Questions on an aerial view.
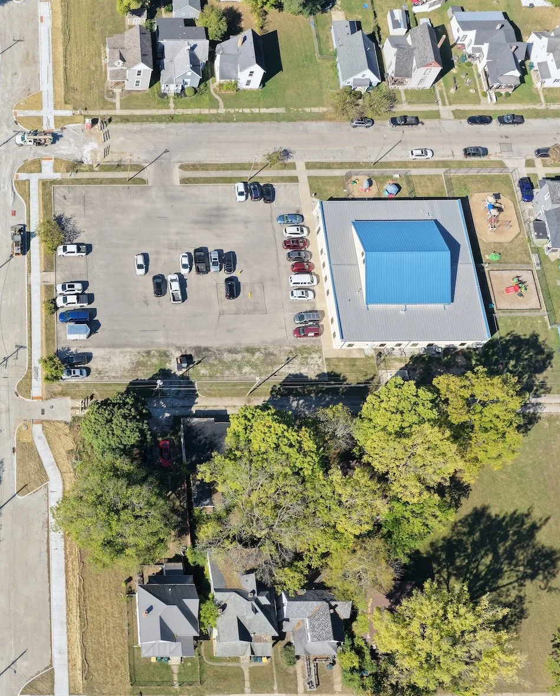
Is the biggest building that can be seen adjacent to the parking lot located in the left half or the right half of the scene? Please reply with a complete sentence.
You can find the biggest building that can be seen adjacent to the parking lot on the right side of the picture.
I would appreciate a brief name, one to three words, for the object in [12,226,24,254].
vehicle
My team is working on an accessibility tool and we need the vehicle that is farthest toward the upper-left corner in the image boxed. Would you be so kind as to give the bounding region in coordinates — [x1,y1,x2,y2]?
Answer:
[13,132,53,147]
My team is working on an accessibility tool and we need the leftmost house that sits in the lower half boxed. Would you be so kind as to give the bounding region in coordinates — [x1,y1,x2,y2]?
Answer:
[136,563,201,657]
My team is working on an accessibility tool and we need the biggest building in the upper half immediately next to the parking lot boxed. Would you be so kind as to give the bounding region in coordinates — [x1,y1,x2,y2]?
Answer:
[314,201,494,350]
